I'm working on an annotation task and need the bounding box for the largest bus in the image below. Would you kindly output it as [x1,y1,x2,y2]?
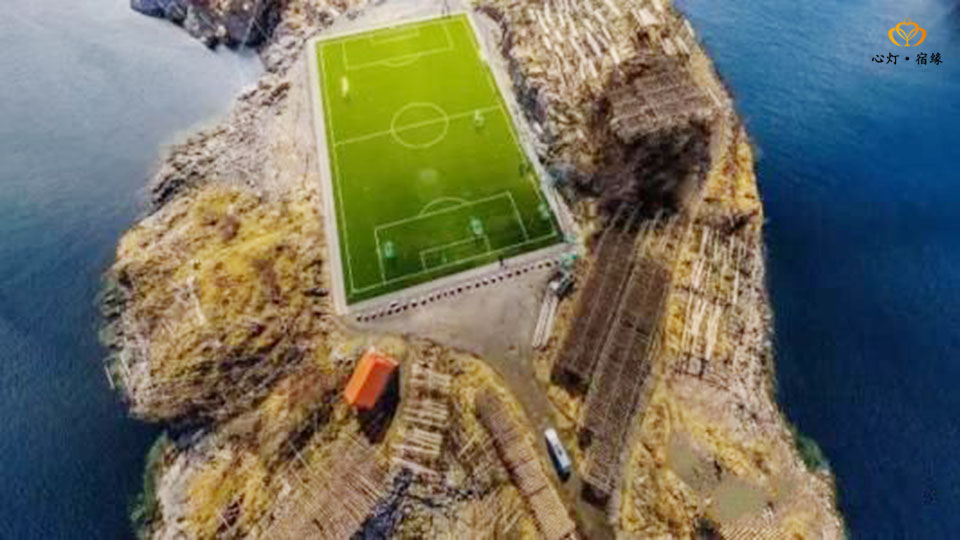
[544,429,571,478]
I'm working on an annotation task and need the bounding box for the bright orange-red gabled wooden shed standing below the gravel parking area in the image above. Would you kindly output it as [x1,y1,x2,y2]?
[345,349,401,412]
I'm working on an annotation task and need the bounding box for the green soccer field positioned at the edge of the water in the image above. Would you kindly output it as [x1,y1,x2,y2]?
[309,8,574,313]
